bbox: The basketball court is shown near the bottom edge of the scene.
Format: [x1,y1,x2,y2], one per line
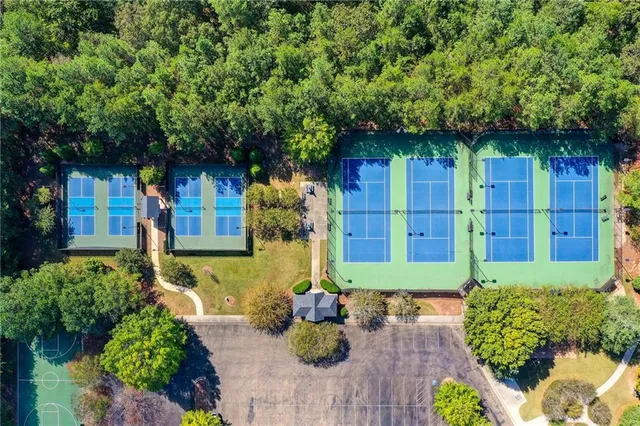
[16,319,86,426]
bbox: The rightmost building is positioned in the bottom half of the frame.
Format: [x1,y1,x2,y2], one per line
[293,292,337,322]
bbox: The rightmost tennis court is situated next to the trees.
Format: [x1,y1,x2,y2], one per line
[544,134,615,290]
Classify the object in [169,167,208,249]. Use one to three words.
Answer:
sports court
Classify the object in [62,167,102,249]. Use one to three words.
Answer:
sports court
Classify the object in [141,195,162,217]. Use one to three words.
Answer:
building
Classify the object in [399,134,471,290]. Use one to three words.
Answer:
tennis court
